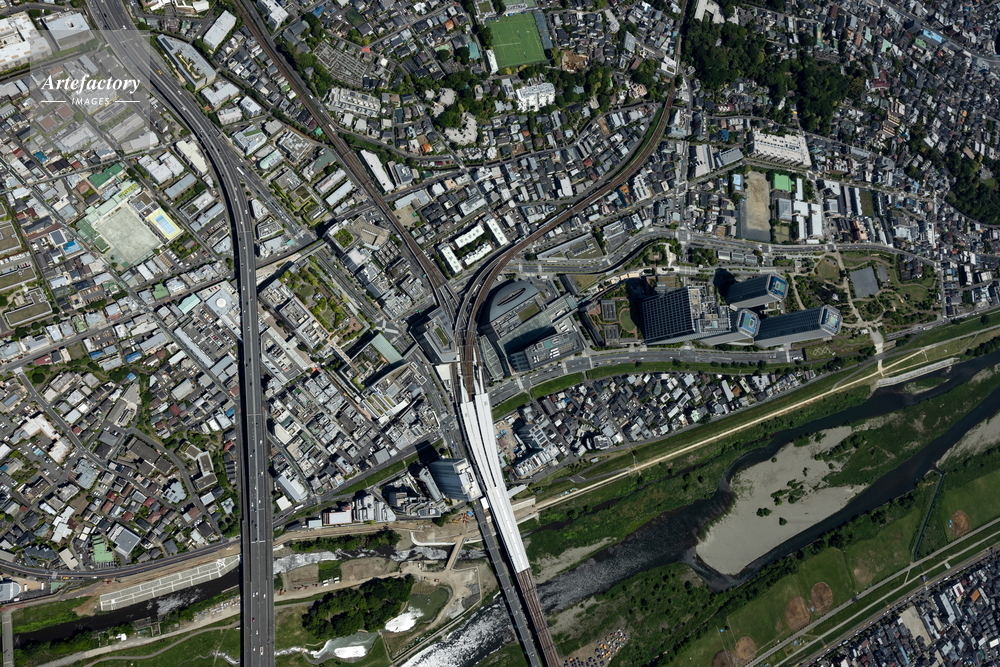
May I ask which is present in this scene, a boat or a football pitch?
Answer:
football pitch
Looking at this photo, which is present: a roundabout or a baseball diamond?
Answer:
baseball diamond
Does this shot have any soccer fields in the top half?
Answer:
Yes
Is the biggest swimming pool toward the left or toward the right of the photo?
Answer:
left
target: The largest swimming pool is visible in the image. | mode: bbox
[145,208,185,244]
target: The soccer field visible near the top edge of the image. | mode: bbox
[485,13,549,68]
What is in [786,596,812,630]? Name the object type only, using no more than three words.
baseball field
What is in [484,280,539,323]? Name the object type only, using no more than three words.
building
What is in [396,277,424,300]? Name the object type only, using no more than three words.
building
